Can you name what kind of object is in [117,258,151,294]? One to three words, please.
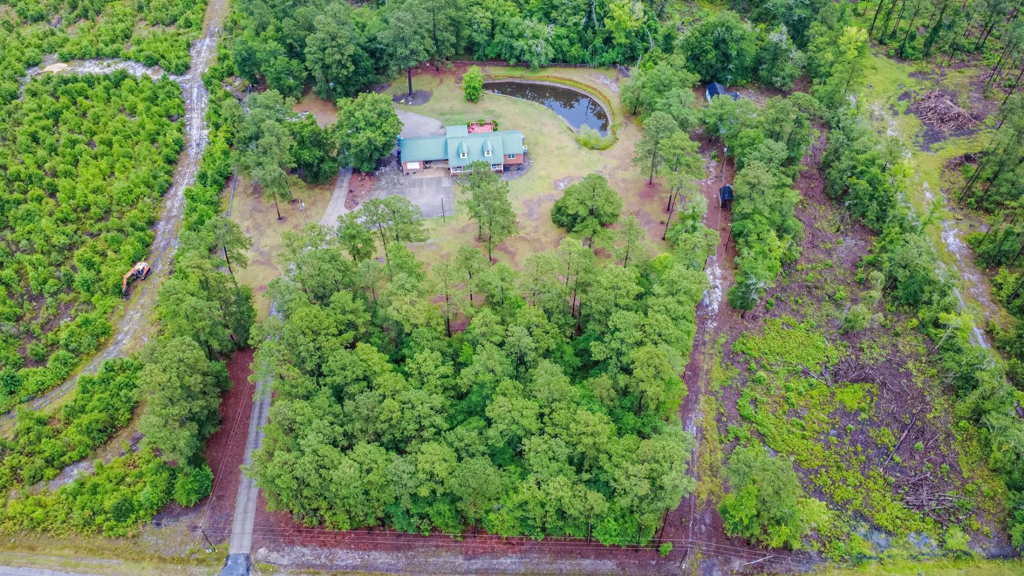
work vehicle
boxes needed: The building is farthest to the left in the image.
[399,121,523,175]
